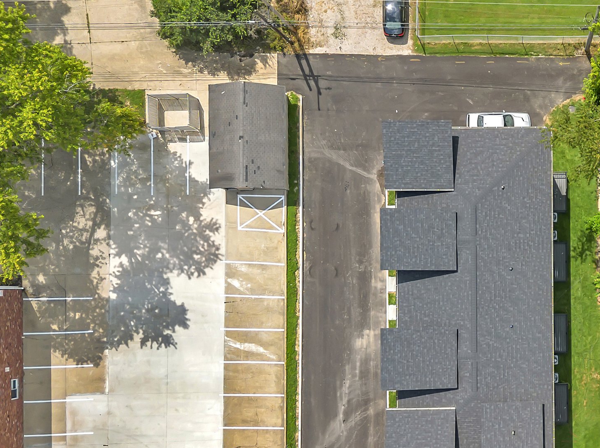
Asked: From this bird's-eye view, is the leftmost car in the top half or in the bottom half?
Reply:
top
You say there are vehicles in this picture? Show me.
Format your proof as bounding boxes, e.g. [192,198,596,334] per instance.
[468,108,531,126]
[383,0,407,39]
